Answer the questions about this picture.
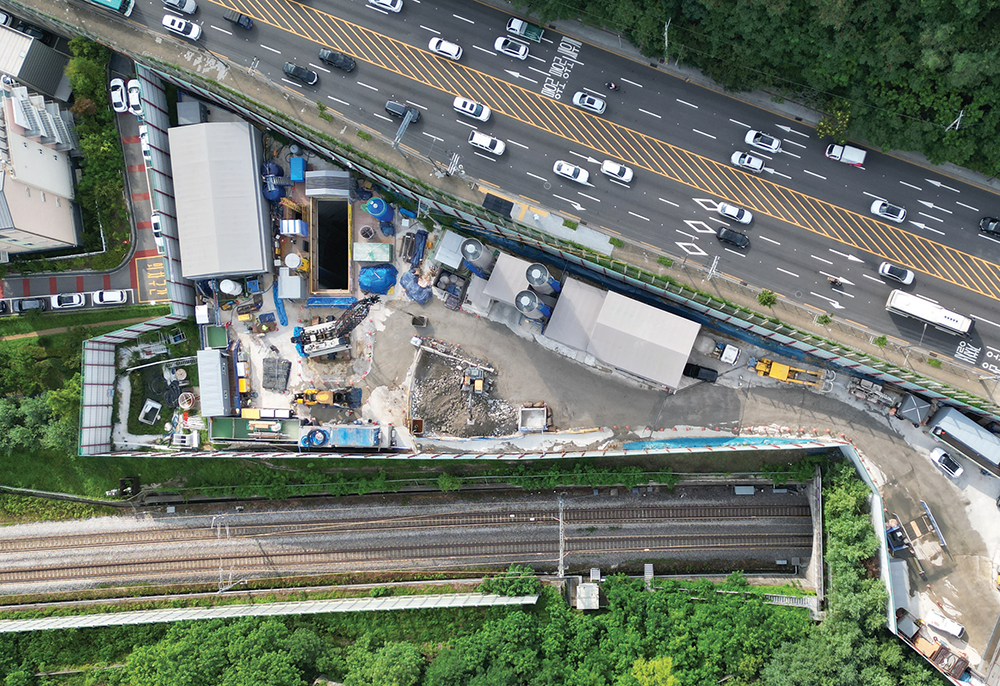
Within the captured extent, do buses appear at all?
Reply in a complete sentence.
Yes, the frame does contain a bus.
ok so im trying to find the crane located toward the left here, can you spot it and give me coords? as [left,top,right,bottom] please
[286,287,389,368]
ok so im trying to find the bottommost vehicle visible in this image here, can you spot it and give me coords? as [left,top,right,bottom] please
[917,607,960,638]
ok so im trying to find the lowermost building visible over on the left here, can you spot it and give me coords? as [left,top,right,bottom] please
[197,350,236,416]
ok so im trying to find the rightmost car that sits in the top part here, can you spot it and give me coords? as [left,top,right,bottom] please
[971,213,1000,238]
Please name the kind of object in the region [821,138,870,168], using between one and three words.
truck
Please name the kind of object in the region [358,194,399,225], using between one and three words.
storage tank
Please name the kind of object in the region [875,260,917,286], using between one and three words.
car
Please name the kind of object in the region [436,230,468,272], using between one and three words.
shed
